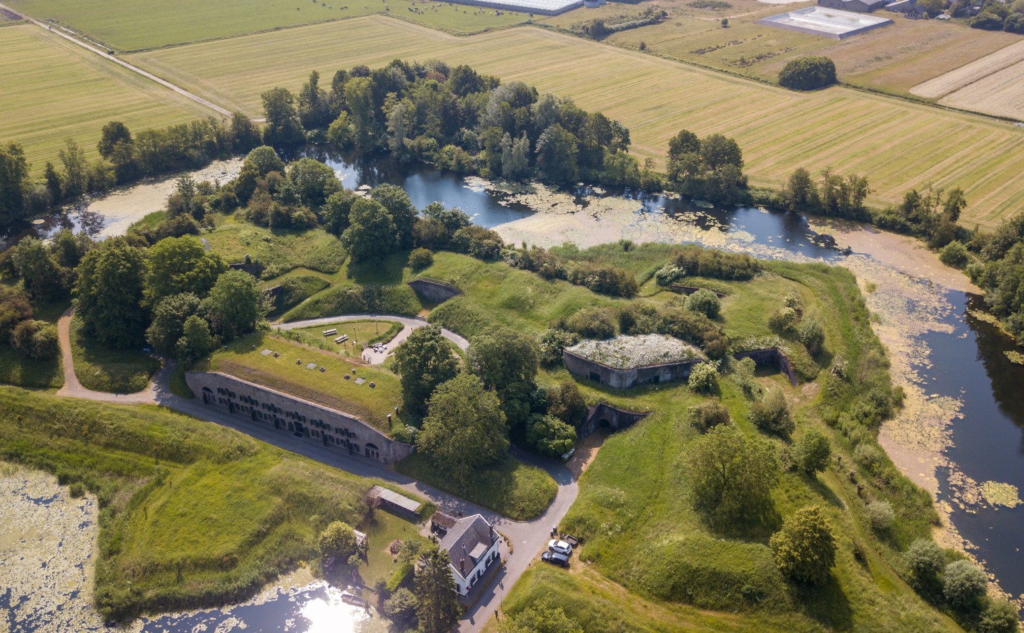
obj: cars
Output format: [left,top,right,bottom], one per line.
[547,538,573,555]
[542,552,570,570]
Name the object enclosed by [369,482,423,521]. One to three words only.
shed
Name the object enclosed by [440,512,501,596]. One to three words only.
house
